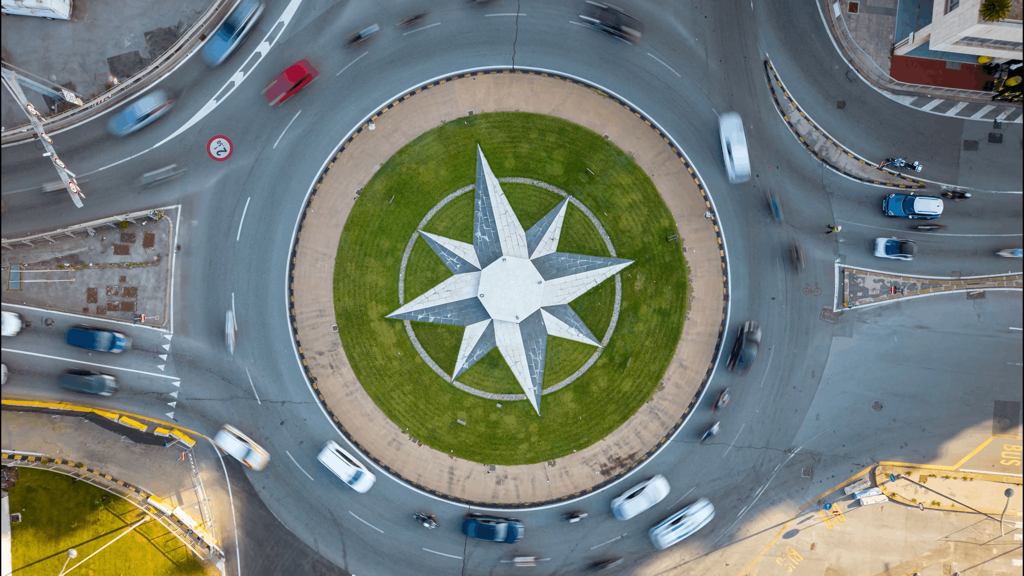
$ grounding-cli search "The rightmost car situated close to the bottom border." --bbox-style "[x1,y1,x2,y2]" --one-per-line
[649,495,713,550]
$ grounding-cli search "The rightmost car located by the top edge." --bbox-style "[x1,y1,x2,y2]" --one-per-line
[580,1,648,49]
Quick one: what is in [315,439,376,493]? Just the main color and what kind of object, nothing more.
white car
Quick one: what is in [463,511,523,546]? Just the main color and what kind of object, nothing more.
blue car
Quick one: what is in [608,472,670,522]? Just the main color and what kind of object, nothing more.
white car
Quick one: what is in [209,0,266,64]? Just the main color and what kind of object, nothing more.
blue car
